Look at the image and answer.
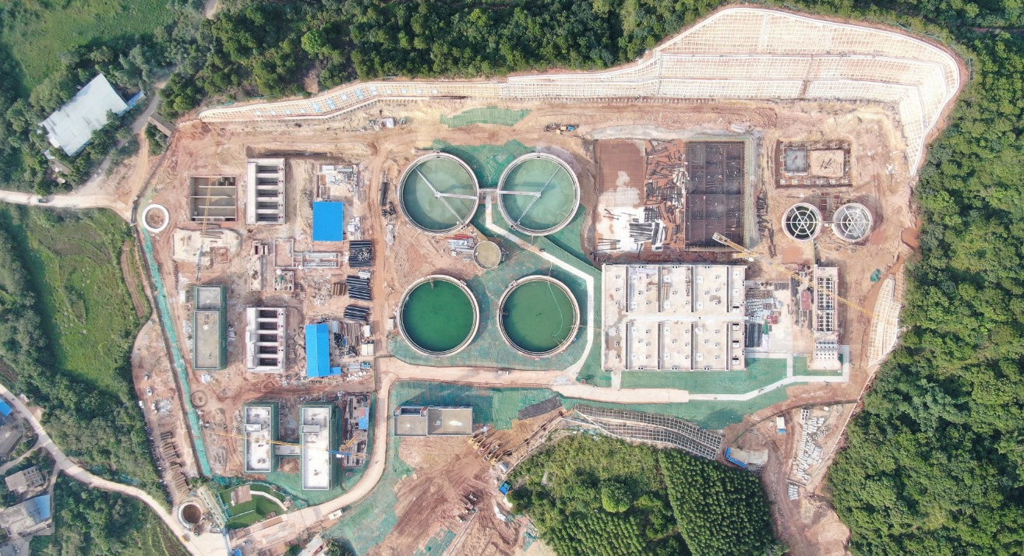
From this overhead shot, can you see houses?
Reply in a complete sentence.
Yes, there's a house here.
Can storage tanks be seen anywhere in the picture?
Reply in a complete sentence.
Yes, this view includes a storage tank.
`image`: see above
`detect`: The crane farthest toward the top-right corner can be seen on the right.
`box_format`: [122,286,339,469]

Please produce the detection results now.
[711,234,874,317]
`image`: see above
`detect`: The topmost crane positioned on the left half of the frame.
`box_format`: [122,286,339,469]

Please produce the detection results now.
[193,116,233,279]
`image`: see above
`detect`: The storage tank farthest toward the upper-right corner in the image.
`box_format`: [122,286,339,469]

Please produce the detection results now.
[828,202,872,242]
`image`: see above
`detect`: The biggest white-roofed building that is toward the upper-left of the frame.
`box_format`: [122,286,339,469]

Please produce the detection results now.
[41,73,134,156]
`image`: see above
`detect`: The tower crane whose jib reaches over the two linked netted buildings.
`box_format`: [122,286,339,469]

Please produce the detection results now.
[208,430,370,458]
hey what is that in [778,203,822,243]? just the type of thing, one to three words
storage tank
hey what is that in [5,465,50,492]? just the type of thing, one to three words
house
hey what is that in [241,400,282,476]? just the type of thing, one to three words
building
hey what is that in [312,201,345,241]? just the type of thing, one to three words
shed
